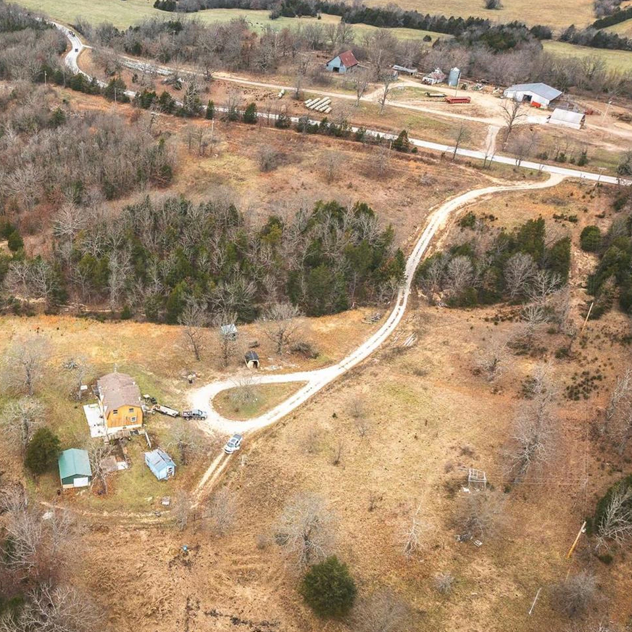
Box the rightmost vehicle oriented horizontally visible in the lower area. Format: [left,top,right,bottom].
[180,410,210,423]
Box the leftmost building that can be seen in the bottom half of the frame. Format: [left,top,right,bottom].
[57,445,93,489]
